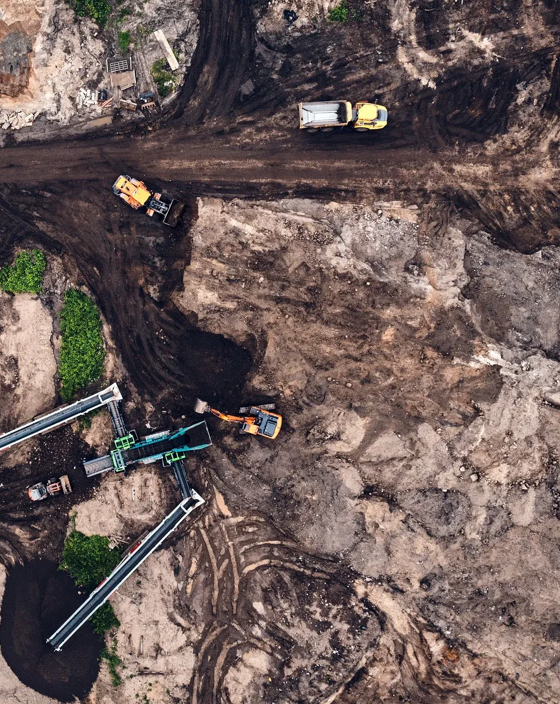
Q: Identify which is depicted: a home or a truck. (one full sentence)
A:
Looking from above, you can make out a truck.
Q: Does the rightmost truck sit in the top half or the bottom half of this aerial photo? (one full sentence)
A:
The rightmost truck sits in the top half of the picture.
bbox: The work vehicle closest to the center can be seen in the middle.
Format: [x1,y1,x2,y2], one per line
[193,400,282,439]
